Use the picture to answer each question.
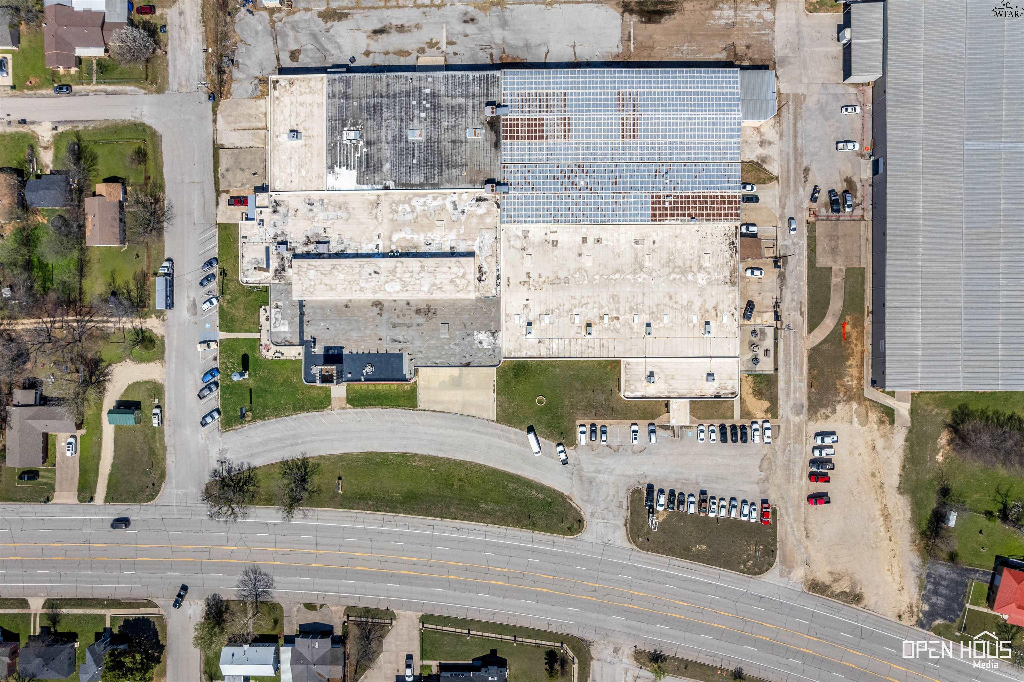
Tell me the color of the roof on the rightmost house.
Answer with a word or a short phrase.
red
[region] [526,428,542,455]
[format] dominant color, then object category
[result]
white vehicle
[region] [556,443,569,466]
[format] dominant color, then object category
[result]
white vehicle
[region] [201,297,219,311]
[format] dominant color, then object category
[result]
white car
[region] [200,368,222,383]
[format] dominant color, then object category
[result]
blue vehicle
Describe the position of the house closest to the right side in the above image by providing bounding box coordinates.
[983,555,1024,623]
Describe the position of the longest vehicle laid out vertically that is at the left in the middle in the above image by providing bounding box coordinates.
[156,260,172,309]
